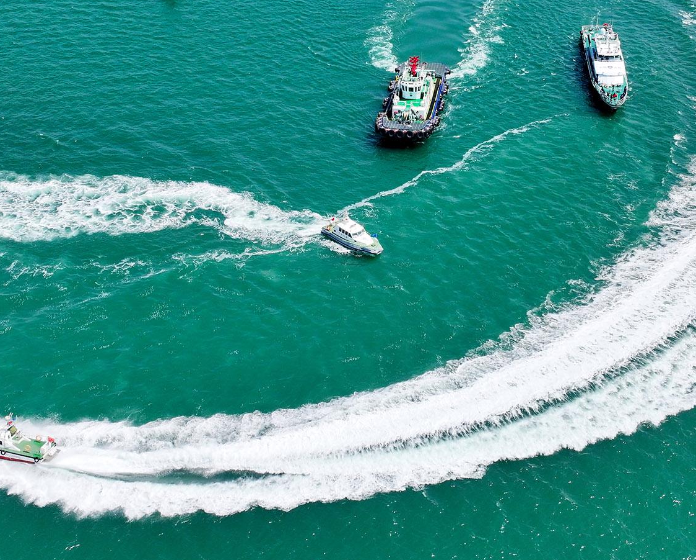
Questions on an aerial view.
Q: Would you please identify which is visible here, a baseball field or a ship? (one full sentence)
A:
This aerial view contains a ship.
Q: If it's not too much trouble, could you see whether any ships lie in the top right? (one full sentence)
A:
Yes, looking in the top right, one can make out a ship.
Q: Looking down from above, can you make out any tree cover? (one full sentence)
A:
No, no tree cover is visible.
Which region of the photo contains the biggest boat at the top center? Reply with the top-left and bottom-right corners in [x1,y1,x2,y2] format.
[375,56,451,145]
